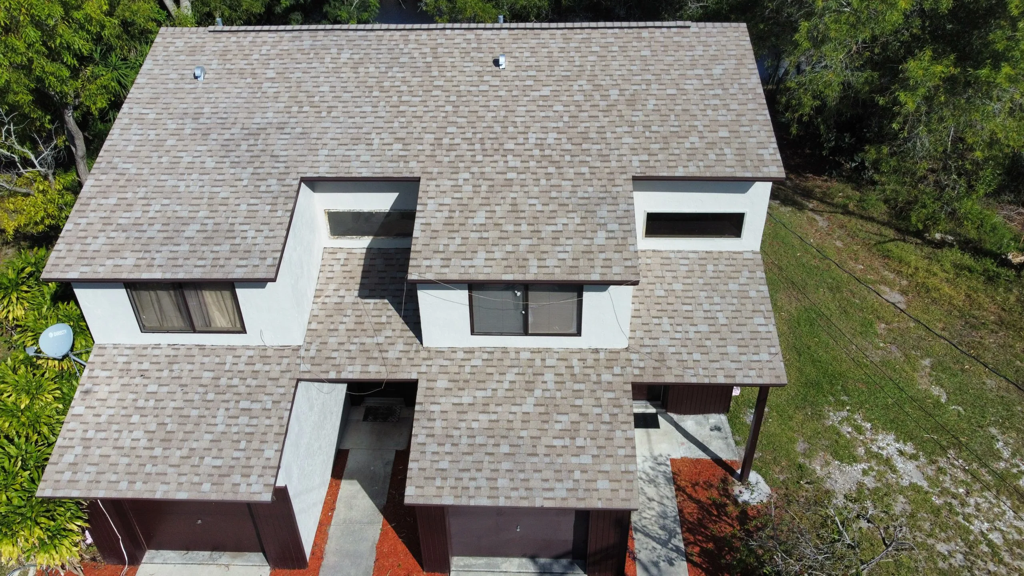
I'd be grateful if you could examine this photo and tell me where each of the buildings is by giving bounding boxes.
[35,15,789,574]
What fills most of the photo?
buildings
